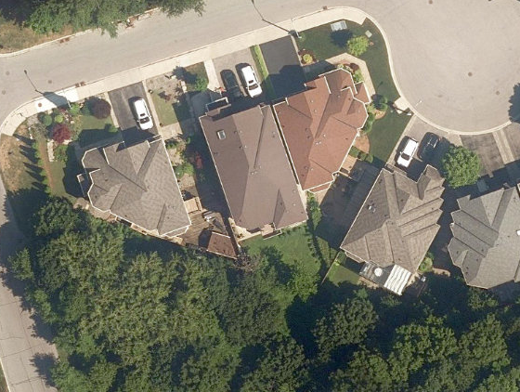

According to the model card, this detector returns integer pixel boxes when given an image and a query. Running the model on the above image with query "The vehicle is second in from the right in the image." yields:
[397,135,418,168]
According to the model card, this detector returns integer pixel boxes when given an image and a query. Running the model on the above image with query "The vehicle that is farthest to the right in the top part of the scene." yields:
[419,132,443,164]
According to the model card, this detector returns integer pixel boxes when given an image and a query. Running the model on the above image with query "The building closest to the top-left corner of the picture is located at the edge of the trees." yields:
[77,135,191,237]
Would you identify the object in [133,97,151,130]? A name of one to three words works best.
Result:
car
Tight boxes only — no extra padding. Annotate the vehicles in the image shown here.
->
[397,135,418,168]
[221,66,243,98]
[133,97,151,130]
[240,63,261,97]
[419,132,443,164]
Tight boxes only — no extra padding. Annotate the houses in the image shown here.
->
[339,164,445,273]
[447,186,520,289]
[77,135,191,237]
[273,68,371,193]
[199,97,308,230]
